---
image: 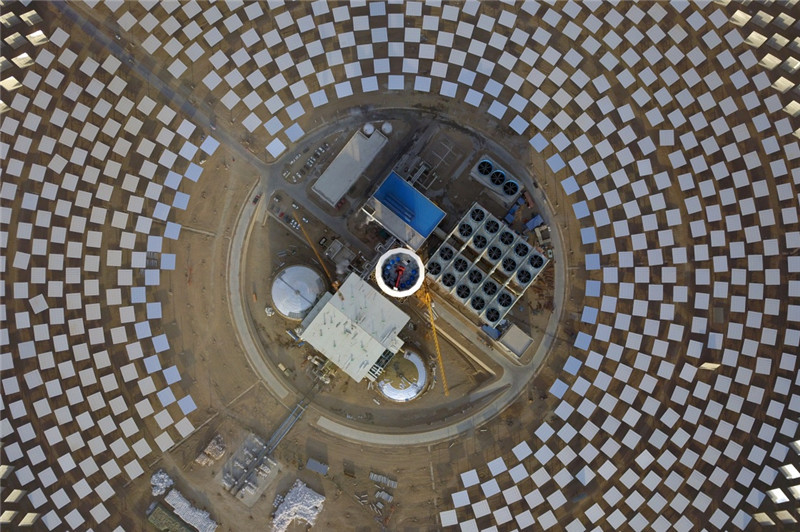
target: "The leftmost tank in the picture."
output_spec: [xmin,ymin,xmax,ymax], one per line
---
[272,262,331,321]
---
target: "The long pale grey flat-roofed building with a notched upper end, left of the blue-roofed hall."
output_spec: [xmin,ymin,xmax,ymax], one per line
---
[312,129,389,210]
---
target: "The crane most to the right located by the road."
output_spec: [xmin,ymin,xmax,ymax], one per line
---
[415,263,448,397]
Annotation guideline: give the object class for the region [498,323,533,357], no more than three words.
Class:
building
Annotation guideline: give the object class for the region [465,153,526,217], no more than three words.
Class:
cooling tower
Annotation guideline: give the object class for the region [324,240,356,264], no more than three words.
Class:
building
